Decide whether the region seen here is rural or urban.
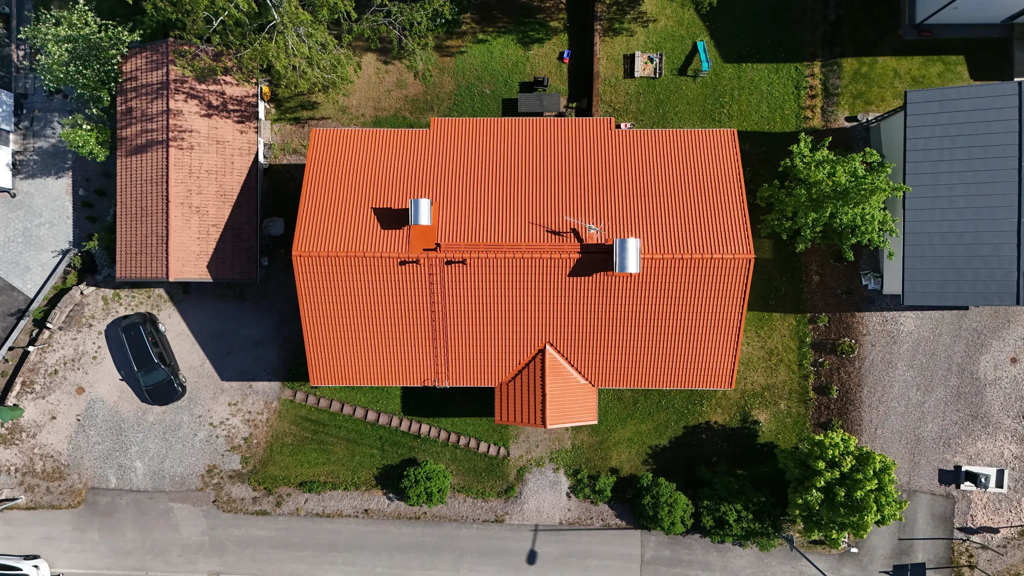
urban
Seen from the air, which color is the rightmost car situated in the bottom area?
black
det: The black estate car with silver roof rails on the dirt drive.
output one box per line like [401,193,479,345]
[117,311,188,406]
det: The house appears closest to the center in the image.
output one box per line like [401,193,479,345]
[290,113,758,429]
